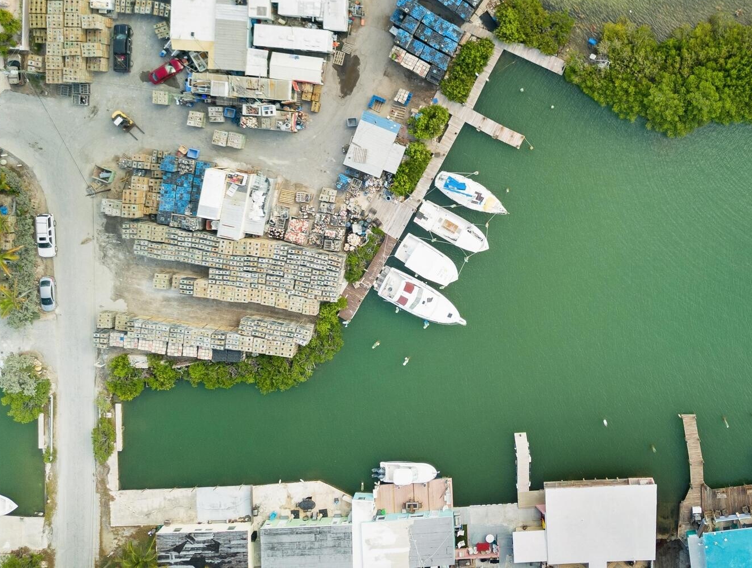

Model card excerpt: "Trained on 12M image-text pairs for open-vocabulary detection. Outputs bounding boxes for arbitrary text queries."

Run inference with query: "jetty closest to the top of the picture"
[461,23,565,75]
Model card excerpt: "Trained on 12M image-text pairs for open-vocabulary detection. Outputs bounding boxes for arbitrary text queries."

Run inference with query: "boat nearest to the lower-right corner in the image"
[375,458,439,484]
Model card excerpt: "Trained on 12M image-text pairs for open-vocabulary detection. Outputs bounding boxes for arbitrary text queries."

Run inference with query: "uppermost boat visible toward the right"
[432,171,507,215]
